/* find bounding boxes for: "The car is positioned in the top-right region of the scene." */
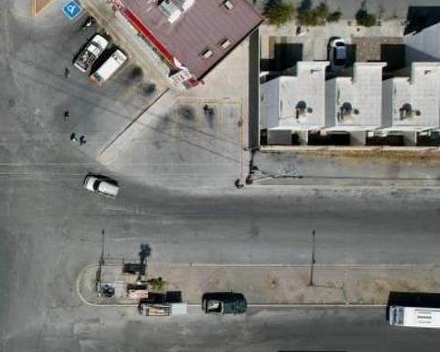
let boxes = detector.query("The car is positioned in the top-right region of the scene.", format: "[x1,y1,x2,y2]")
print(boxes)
[328,37,347,67]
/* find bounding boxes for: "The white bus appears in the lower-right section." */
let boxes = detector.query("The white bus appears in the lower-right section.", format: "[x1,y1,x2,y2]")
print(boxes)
[391,303,440,329]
